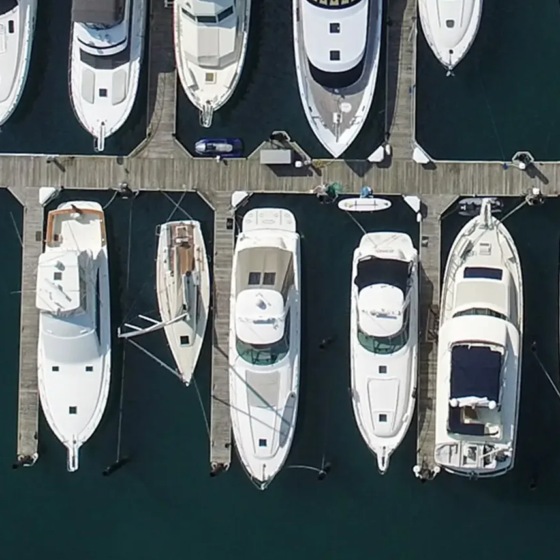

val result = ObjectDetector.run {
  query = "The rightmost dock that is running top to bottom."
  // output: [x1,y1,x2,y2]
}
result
[405,195,459,478]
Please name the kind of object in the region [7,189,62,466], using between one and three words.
pier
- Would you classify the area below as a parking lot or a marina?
marina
